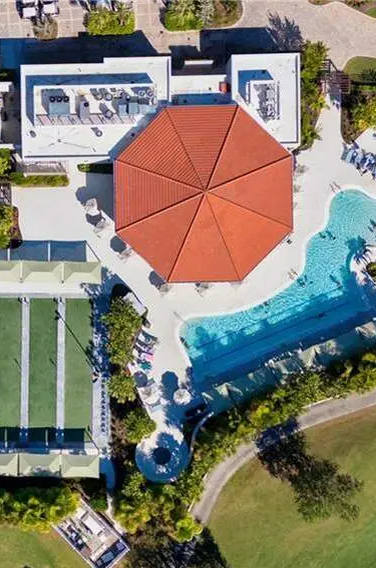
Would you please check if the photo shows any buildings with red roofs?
Yes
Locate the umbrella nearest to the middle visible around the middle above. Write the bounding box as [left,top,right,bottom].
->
[160,281,176,295]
